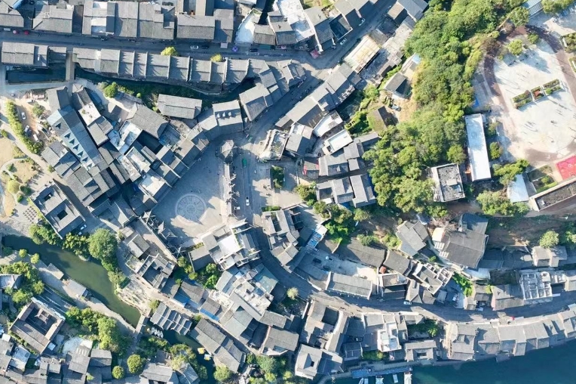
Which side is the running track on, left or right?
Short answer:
right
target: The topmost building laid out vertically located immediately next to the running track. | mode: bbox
[461,113,491,180]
